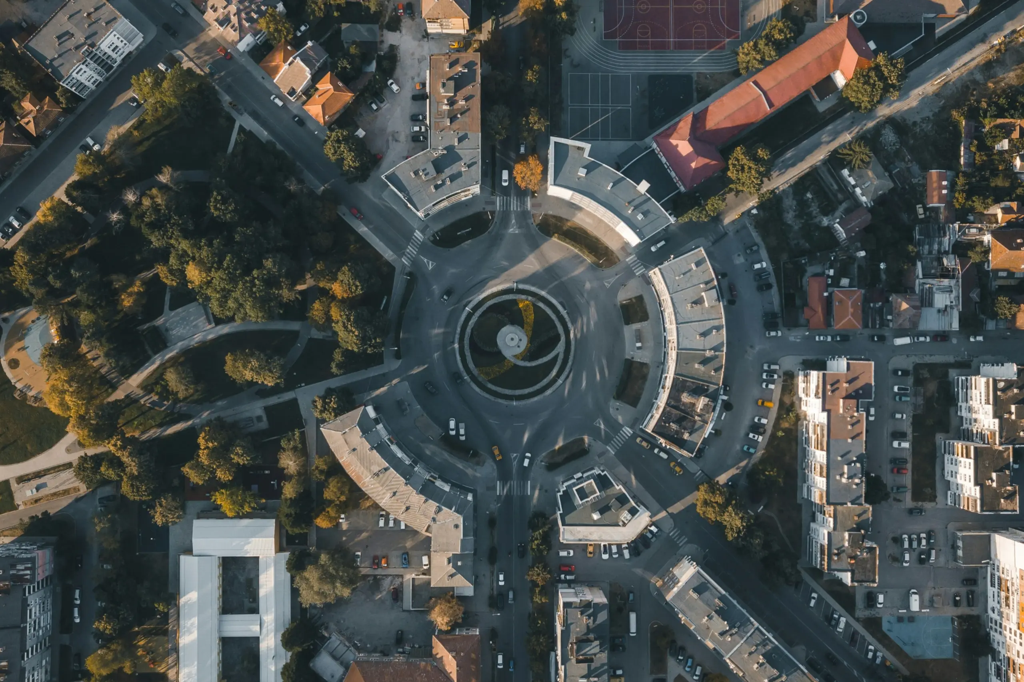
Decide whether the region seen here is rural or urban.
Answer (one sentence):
It looks urban.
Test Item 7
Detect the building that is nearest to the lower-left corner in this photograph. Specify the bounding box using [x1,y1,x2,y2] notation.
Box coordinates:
[0,542,63,682]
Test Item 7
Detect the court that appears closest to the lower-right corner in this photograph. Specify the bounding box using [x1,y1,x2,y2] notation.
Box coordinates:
[882,618,953,659]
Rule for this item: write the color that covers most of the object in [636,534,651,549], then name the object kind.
black car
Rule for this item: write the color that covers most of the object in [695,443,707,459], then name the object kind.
black vehicle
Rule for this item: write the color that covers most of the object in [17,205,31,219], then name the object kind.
black car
